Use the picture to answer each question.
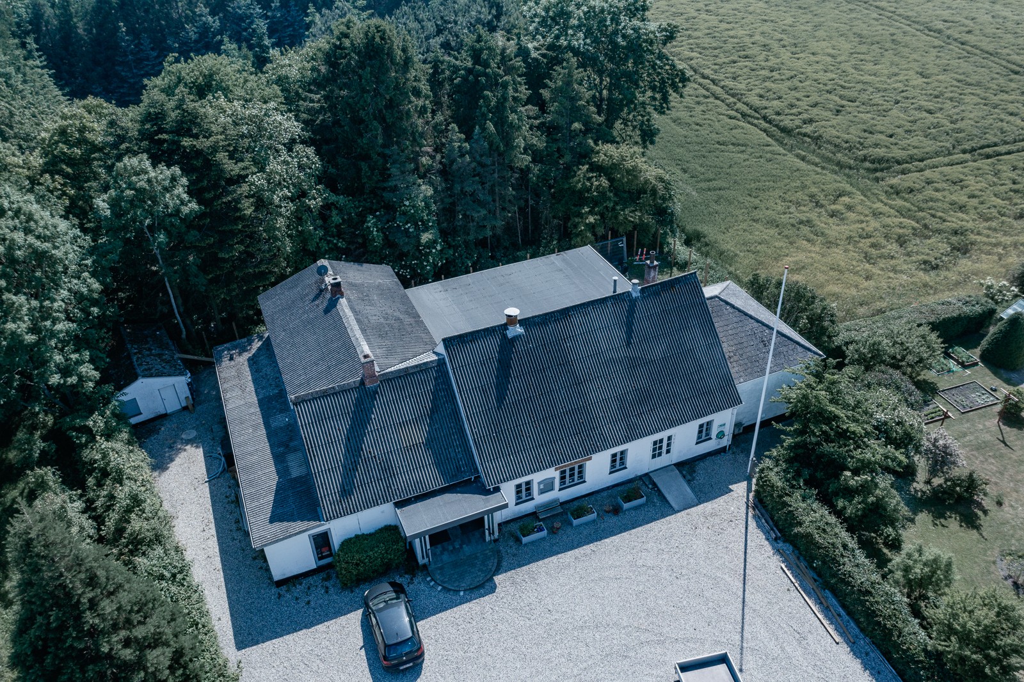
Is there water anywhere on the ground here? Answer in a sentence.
No, no water is visible.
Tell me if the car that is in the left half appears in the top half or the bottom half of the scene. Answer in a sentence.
The bottom half of the photo is where the car that is in the left half is.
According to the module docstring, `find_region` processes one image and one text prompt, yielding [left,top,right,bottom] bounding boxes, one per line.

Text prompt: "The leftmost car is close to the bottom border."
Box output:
[363,581,428,679]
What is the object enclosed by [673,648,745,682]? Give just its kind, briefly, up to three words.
trailer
